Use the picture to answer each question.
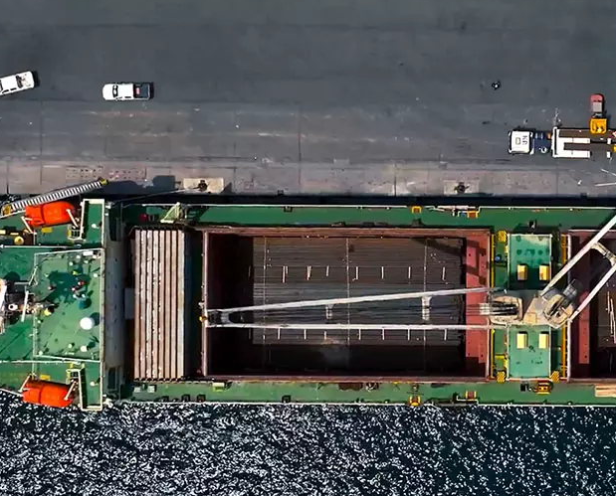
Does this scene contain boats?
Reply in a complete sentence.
Yes, you can see a boat in this photo.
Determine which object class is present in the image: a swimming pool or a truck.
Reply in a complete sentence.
I can see a truck in this picture.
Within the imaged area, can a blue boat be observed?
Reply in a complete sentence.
No, there isn't any blue boat down there.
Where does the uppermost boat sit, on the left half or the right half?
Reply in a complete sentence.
It is on the left.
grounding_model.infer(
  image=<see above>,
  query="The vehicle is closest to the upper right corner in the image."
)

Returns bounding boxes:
[590,97,604,118]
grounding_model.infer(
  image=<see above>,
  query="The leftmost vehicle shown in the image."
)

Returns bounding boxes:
[0,70,38,97]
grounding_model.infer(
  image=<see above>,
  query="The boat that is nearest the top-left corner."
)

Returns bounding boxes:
[27,200,80,229]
